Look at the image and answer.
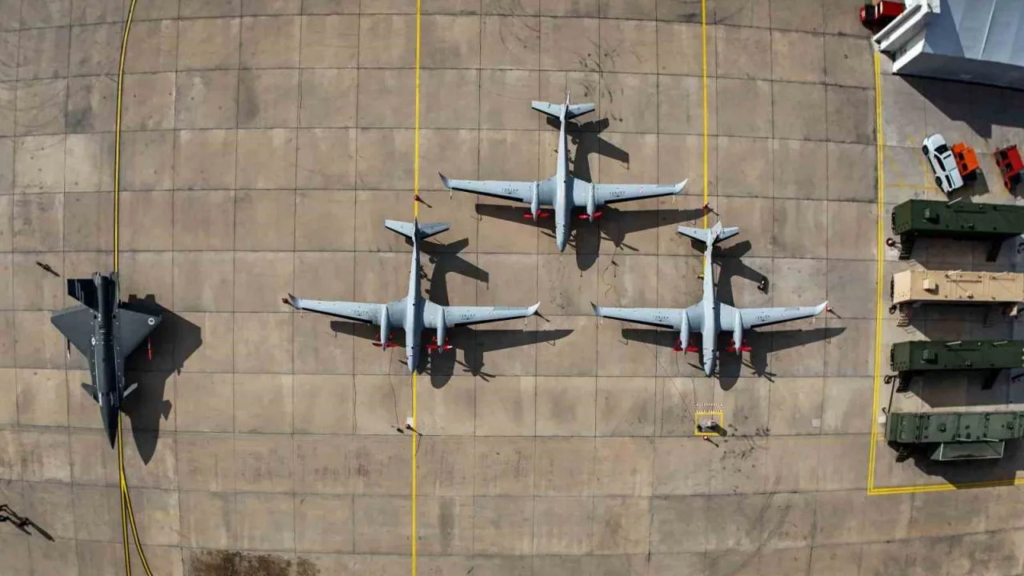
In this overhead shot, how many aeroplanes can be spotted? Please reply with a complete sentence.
In total, 4 aeroplanes can be seen.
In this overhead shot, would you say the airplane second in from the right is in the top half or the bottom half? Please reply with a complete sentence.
The airplane second in from the right is in the top half of the image.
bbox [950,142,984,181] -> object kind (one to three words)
work vehicle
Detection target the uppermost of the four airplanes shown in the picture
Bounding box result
[439,87,691,251]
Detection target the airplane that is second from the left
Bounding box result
[289,214,540,371]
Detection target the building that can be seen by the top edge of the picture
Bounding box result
[880,0,1024,91]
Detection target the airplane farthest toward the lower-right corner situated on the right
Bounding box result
[593,217,833,375]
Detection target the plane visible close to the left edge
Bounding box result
[50,269,161,449]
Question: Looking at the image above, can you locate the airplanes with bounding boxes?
[50,269,161,449]
[593,217,833,375]
[289,214,540,371]
[439,87,691,251]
